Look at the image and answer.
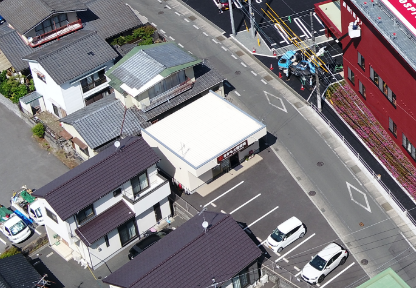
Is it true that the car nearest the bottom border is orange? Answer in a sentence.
No, the car nearest the bottom border is white.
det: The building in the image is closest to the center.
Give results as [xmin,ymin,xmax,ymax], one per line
[140,95,272,200]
